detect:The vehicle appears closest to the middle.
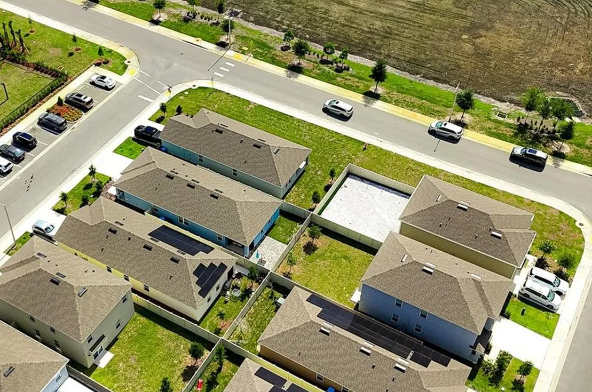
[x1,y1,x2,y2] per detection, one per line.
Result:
[322,104,354,124]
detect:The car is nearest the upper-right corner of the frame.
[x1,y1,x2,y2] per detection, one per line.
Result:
[510,151,549,173]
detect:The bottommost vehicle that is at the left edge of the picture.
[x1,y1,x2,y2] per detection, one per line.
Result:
[27,217,60,240]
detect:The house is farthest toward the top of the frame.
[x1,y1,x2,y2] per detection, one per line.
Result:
[159,108,315,199]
